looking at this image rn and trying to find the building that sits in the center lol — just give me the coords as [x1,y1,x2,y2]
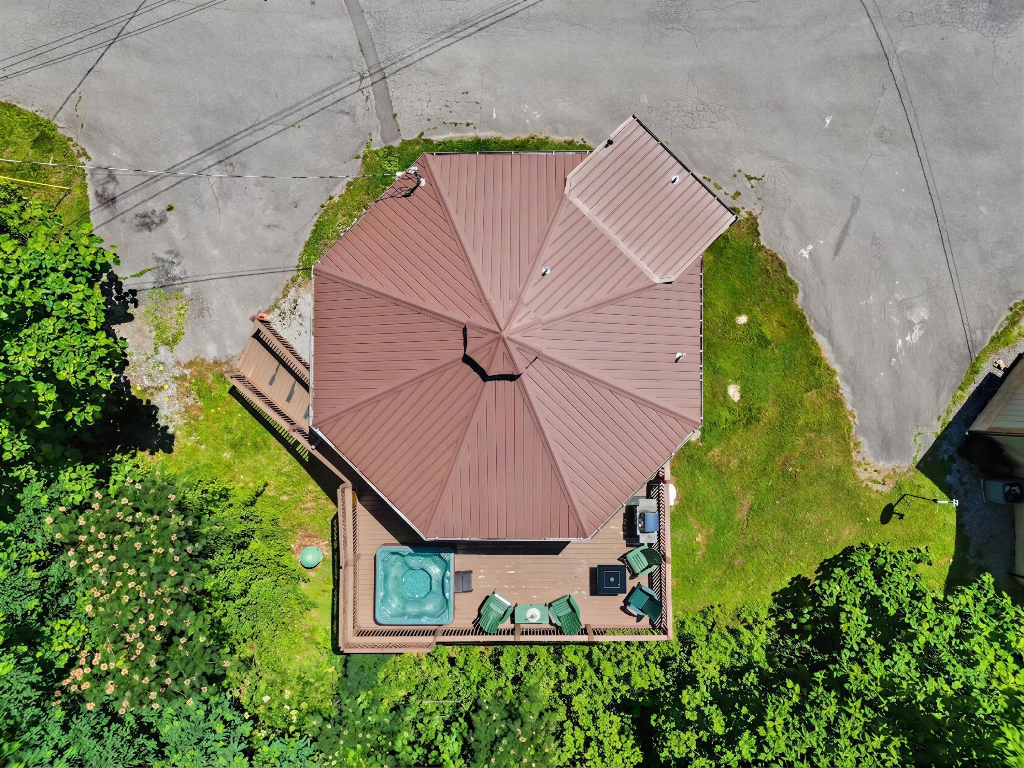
[310,113,738,541]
